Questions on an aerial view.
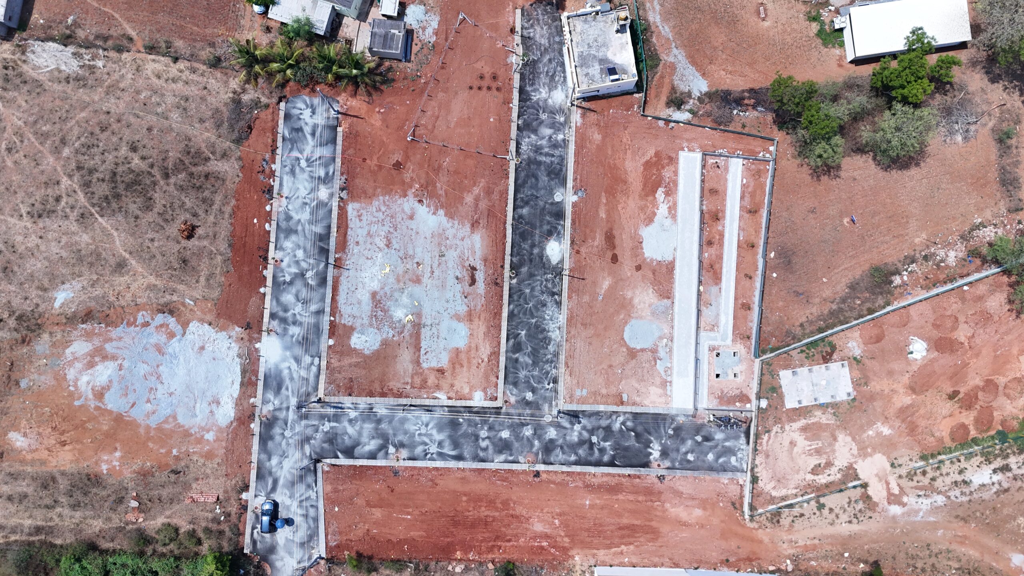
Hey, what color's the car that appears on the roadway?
blue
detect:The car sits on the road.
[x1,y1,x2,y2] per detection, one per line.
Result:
[257,498,278,535]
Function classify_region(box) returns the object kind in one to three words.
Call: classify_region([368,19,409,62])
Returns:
shed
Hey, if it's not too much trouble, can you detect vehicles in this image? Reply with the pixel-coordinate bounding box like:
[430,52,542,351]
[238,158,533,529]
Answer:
[257,498,278,535]
[253,0,270,14]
